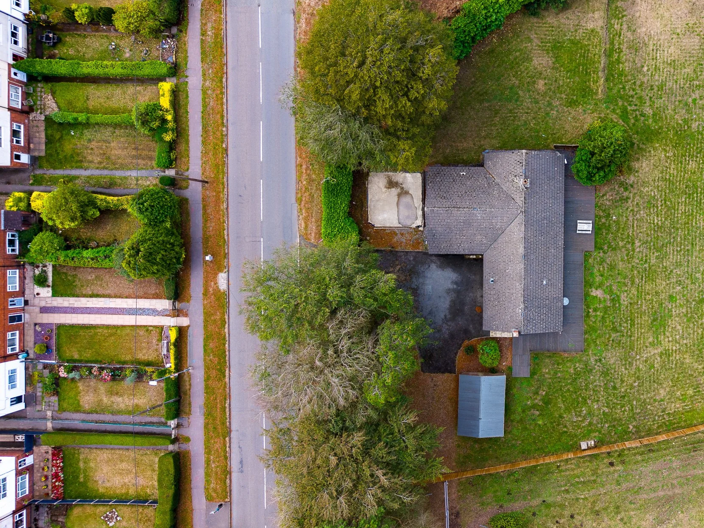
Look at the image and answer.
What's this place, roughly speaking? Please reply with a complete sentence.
This looks like a residential area.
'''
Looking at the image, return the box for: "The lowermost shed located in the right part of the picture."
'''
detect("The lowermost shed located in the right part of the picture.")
[458,372,506,439]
